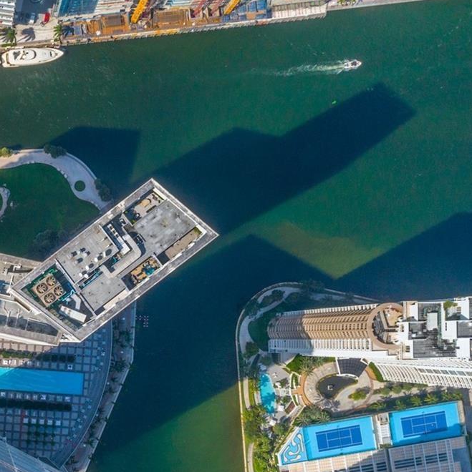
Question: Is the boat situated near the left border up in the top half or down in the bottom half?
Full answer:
The boat situated near the left border sits in the top half of the picture.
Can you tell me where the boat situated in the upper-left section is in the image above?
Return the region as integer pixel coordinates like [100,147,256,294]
[0,47,65,69]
